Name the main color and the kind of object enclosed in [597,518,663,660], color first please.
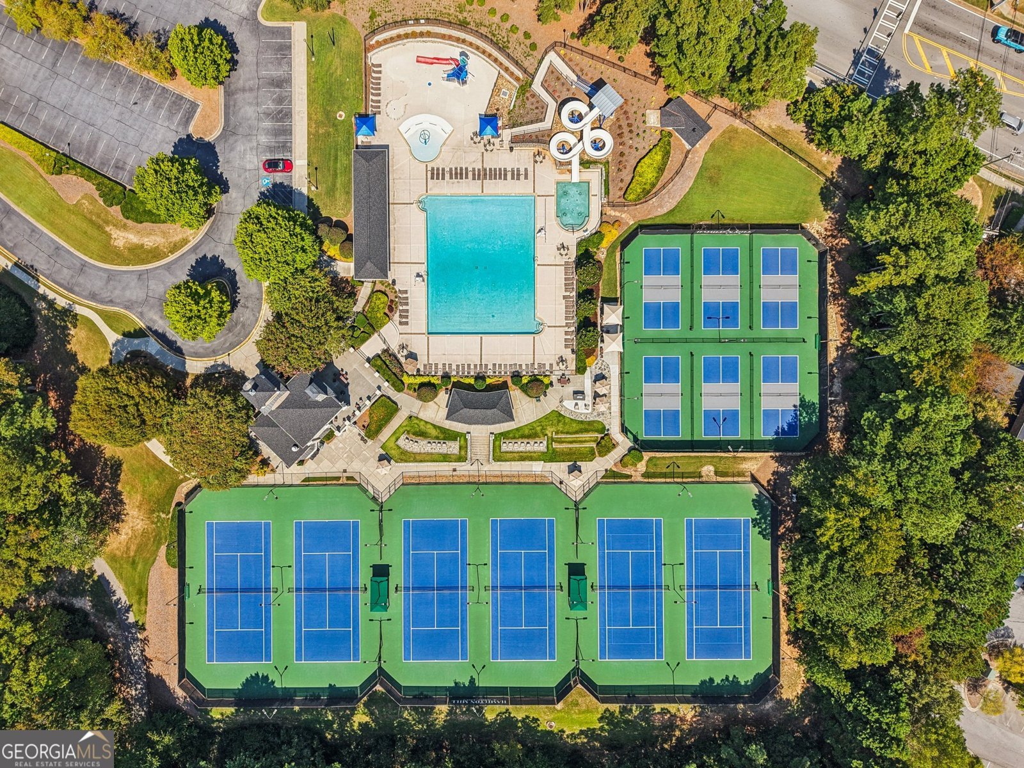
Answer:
blue tennis court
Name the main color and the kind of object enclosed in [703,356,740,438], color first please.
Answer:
blue sports court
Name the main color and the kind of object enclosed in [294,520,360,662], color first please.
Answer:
blue tennis court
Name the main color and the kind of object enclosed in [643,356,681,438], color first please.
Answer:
blue sports court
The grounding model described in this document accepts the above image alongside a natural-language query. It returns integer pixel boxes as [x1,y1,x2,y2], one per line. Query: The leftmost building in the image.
[241,369,345,469]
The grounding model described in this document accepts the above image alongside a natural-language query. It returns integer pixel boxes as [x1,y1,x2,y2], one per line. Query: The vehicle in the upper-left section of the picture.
[261,157,291,172]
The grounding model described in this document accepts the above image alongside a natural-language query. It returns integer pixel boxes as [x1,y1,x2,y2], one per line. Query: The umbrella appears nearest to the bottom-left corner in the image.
[375,457,390,473]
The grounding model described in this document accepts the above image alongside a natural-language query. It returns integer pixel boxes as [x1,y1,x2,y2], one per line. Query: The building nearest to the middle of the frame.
[445,388,515,425]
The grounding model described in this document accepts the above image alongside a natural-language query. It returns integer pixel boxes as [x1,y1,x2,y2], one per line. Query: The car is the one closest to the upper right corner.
[995,25,1024,48]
